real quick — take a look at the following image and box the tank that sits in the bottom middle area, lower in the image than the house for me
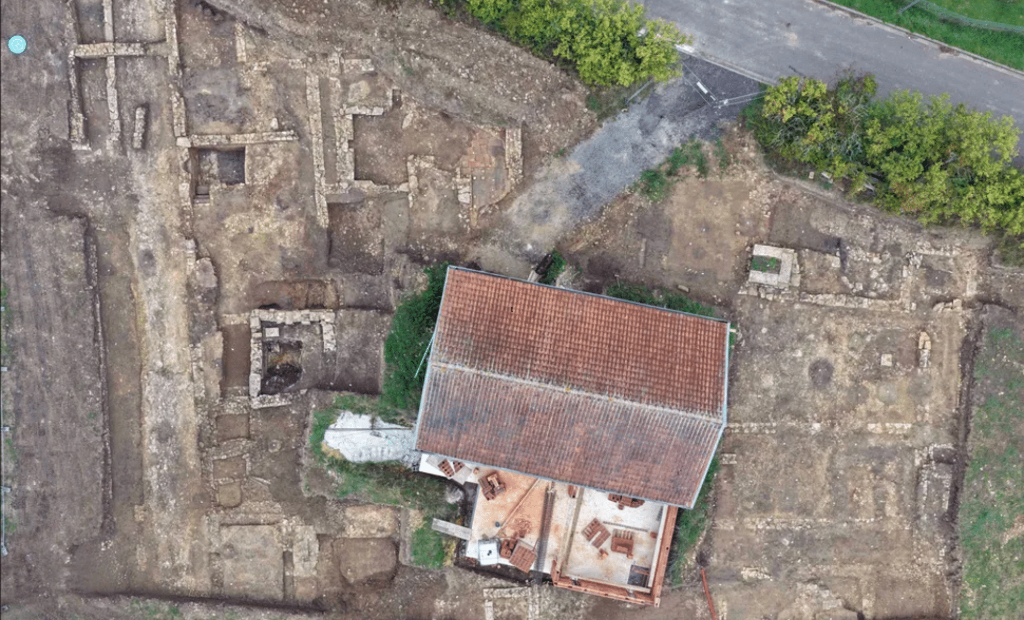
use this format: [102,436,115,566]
[478,540,500,573]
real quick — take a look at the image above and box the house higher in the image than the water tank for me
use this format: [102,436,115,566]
[412,263,732,512]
